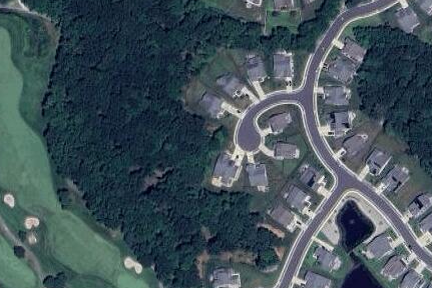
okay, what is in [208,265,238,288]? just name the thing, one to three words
house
